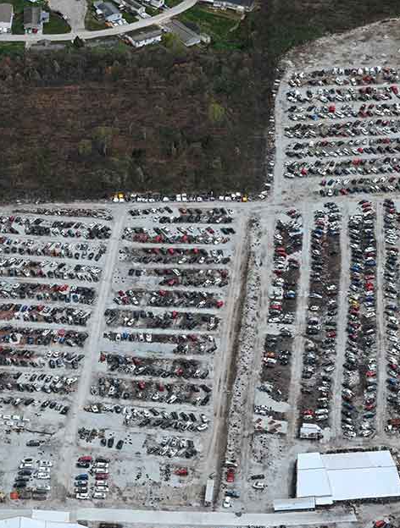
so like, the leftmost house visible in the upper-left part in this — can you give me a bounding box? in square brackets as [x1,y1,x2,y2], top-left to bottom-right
[0,1,20,36]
